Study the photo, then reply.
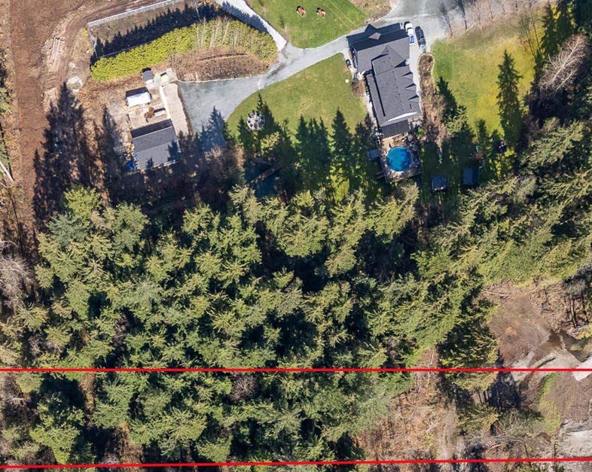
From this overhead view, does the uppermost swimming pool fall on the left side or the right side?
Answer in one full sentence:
It is on the right.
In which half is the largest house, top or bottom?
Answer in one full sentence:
The largest house is in the top half of the image.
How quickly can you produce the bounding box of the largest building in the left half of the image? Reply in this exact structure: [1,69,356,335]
[132,127,182,172]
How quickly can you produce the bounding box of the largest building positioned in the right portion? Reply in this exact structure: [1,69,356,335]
[348,28,425,144]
